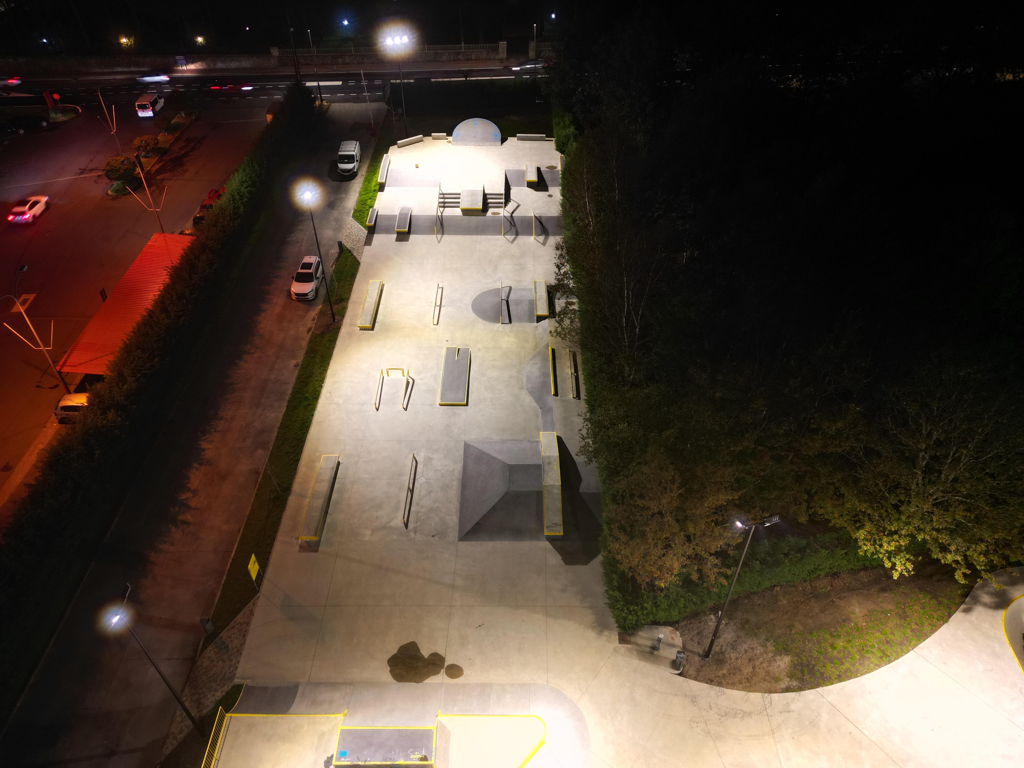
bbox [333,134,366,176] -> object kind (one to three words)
van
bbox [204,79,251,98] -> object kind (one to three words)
car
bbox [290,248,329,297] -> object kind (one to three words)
car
